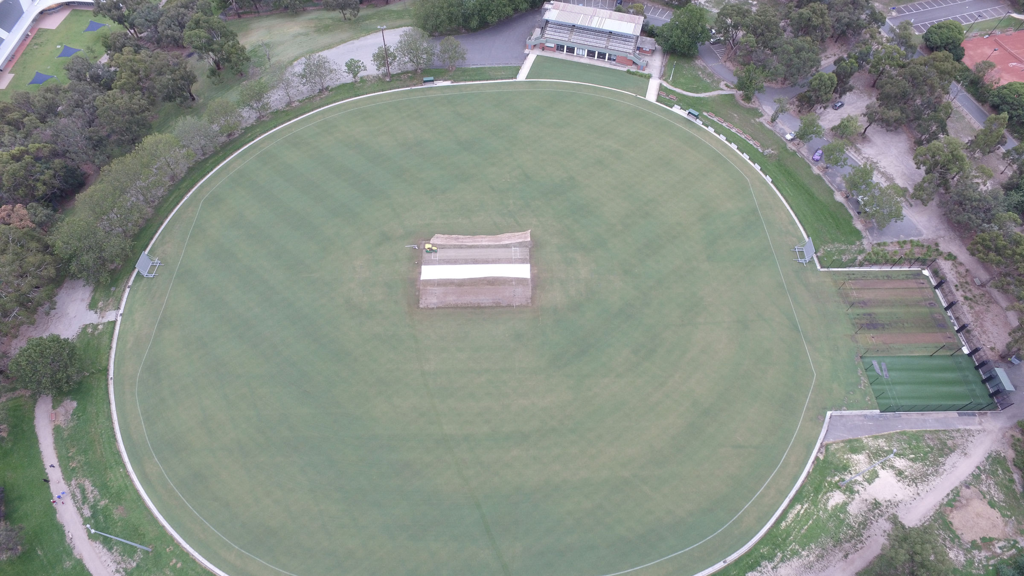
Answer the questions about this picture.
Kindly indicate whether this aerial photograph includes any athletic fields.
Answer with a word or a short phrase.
Yes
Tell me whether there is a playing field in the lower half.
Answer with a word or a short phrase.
Yes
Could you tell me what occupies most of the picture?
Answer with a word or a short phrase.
grass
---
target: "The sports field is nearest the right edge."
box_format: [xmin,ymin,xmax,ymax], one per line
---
[863,355,996,411]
